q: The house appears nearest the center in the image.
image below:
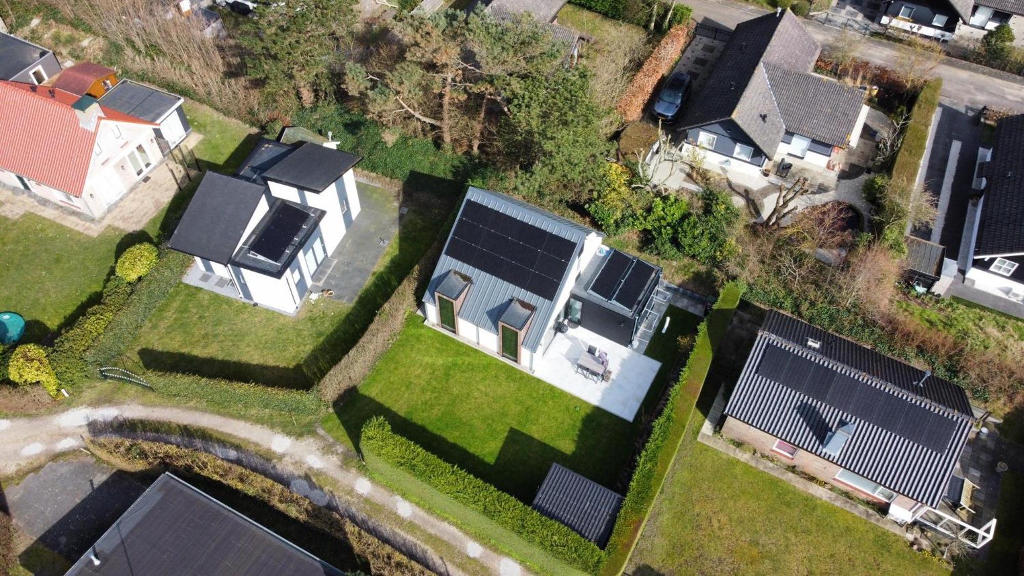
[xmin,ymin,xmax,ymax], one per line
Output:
[421,184,664,373]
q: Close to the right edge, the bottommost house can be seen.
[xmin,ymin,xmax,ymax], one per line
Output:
[724,307,976,529]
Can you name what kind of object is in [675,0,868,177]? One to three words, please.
house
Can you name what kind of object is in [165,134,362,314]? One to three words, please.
house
